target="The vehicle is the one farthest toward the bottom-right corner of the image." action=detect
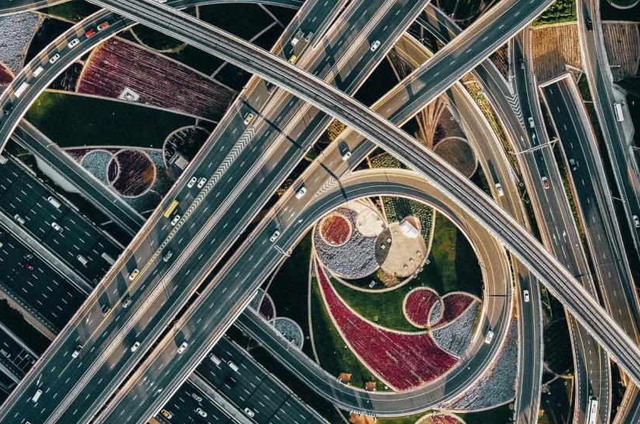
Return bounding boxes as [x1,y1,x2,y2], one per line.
[587,398,602,424]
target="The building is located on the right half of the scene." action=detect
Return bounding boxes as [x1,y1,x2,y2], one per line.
[399,217,426,243]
